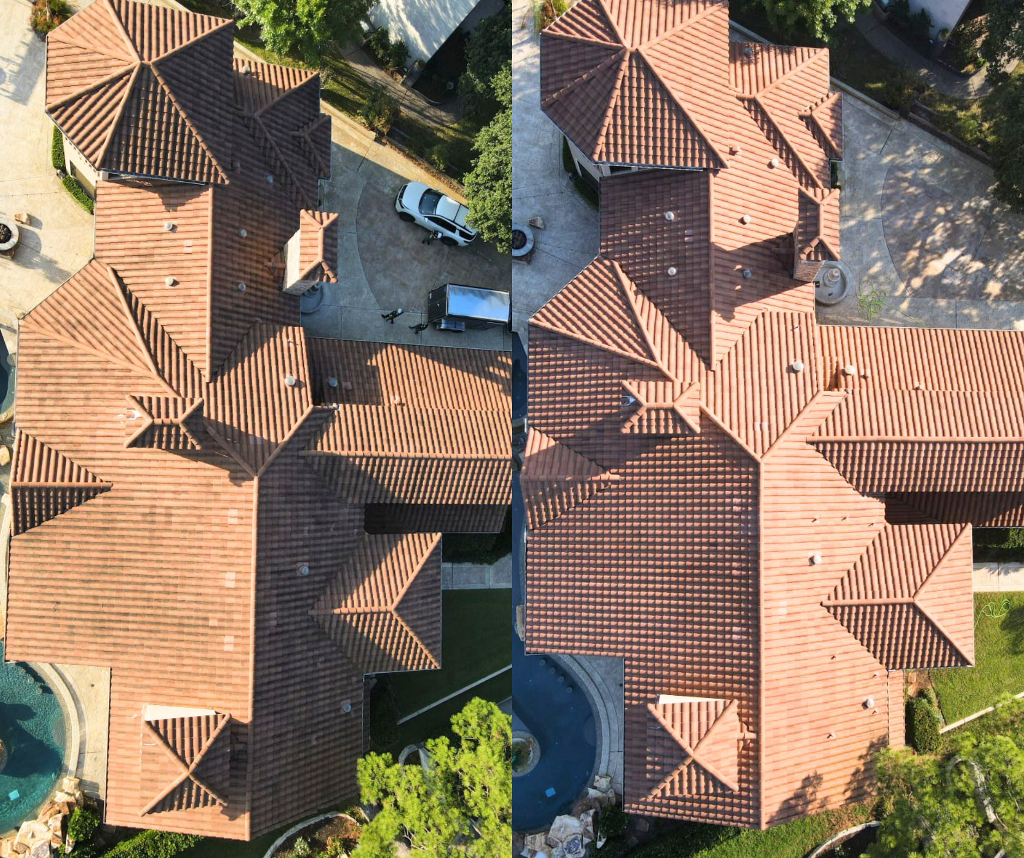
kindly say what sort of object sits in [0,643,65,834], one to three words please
swimming pool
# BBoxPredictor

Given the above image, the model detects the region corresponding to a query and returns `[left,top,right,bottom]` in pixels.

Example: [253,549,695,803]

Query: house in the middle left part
[3,0,514,843]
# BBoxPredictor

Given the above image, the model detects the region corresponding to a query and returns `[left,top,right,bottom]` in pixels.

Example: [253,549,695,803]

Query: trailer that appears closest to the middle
[414,278,509,326]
